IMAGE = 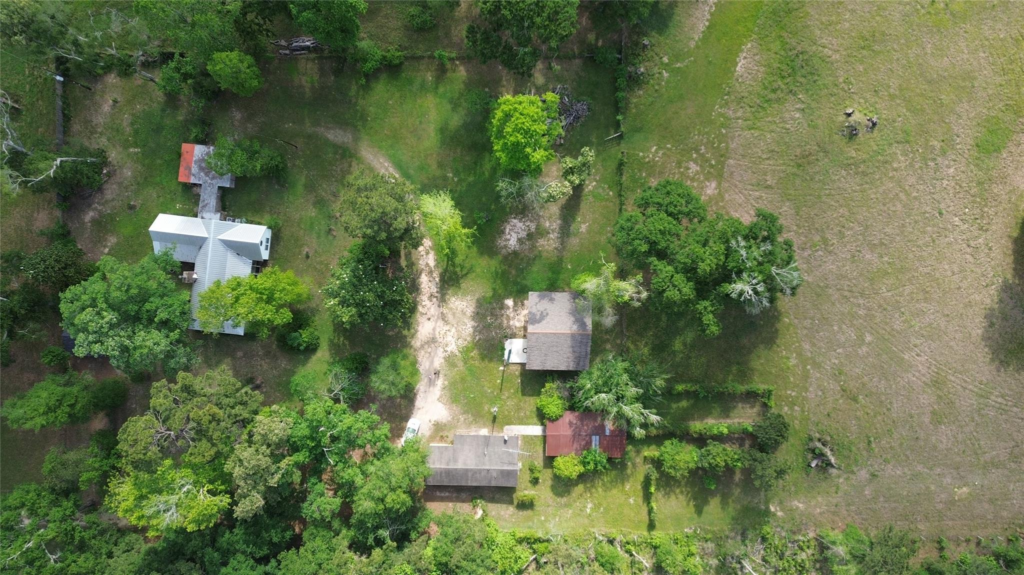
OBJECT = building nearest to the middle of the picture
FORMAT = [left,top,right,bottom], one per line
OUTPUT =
[526,292,591,370]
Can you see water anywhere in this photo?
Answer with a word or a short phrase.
No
